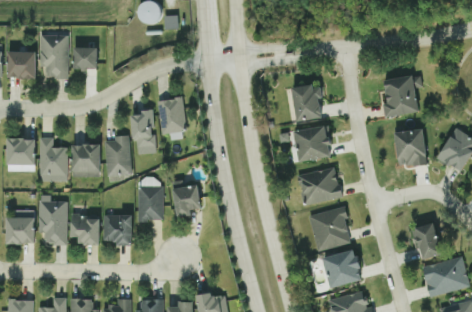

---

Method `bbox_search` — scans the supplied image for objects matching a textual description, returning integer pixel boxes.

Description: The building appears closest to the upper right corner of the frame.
[382,75,423,118]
